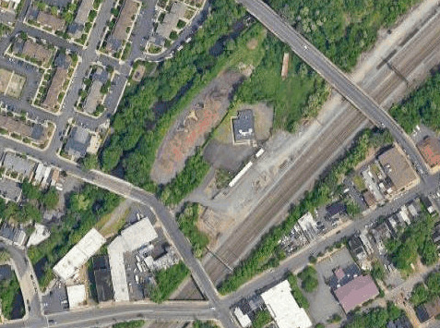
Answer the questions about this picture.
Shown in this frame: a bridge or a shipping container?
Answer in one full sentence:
There is a bridge in the scene.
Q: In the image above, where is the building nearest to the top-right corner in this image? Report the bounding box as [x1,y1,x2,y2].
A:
[416,135,440,168]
